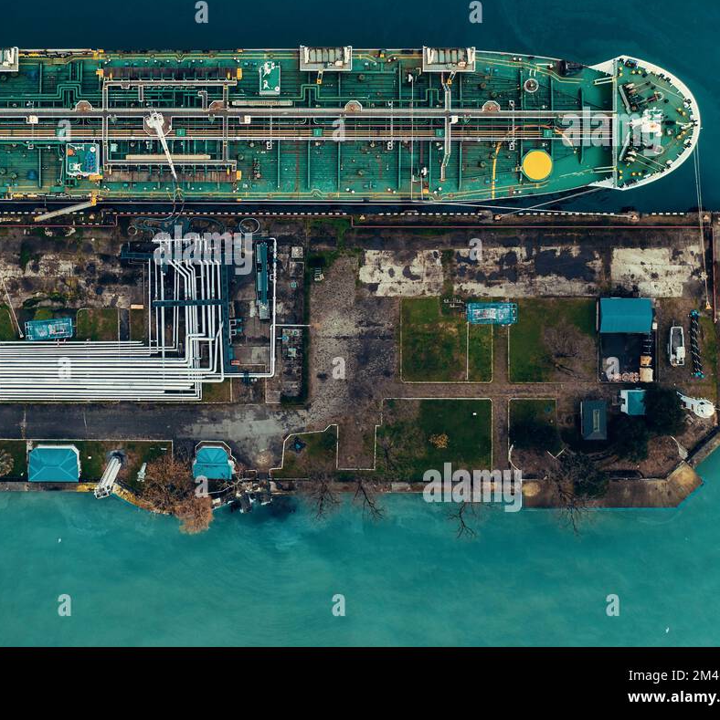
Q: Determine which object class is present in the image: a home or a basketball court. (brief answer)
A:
home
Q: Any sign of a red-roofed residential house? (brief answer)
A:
No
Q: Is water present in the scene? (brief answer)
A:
Yes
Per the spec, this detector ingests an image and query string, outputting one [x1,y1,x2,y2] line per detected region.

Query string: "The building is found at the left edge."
[29,445,81,481]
